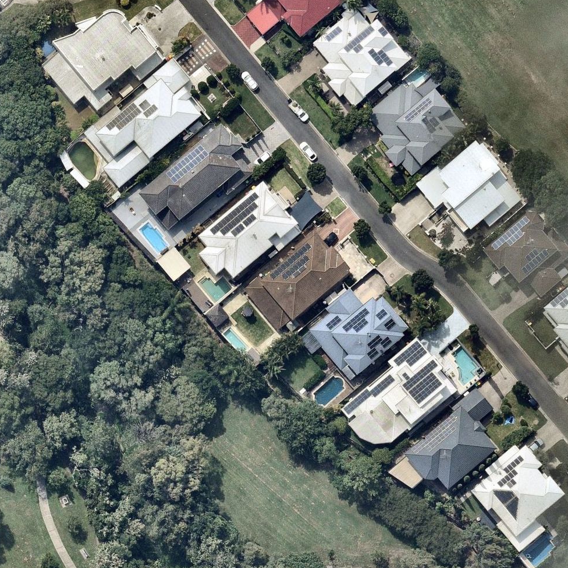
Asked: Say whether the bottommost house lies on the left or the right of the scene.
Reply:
right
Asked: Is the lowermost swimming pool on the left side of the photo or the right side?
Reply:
right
